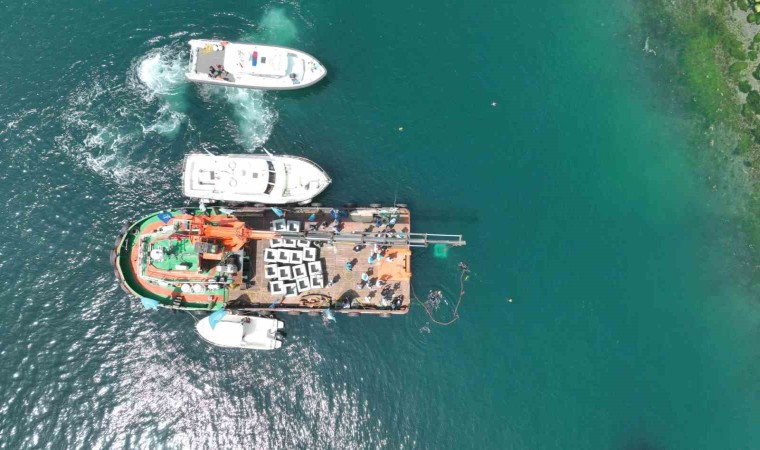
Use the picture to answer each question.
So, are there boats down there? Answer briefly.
Yes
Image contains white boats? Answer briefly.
Yes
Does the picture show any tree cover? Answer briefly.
No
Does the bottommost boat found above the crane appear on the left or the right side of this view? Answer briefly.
left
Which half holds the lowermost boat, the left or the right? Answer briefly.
left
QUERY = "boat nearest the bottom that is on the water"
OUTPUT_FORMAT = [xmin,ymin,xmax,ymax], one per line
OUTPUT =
[195,316,286,349]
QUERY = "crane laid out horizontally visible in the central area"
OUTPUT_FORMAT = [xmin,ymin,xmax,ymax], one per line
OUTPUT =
[190,215,466,262]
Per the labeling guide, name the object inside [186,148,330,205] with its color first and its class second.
white boat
